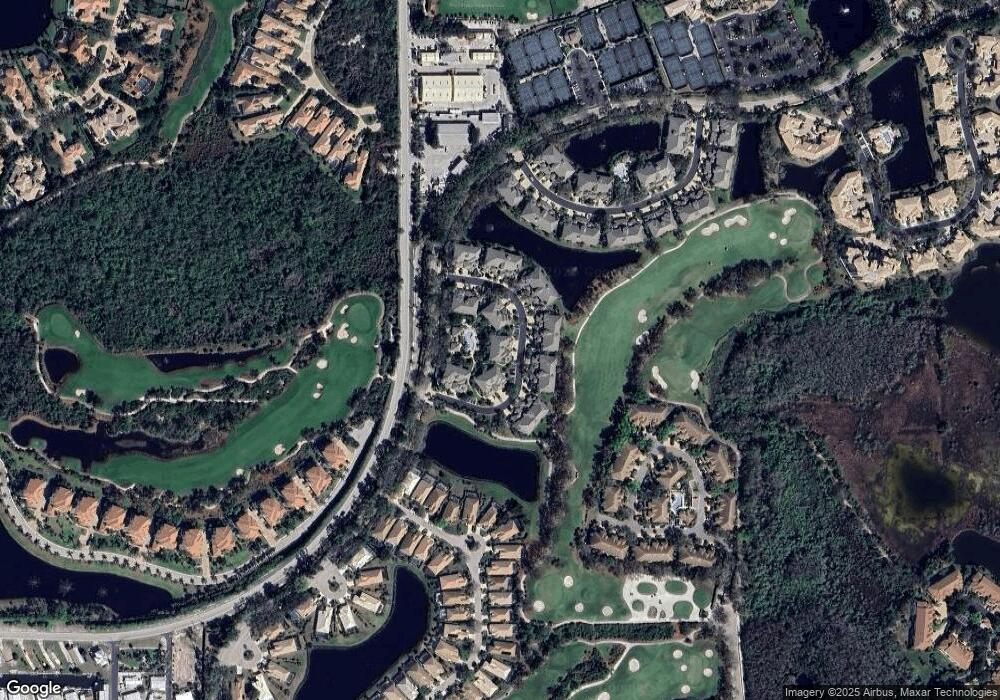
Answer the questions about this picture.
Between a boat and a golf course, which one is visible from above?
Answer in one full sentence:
I can see a golf course in this picture.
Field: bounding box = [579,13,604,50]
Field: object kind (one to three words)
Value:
tennis court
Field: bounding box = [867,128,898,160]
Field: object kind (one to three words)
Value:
building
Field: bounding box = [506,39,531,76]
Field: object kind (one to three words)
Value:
tennis court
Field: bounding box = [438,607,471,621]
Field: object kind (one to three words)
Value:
house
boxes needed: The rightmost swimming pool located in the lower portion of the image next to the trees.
[669,490,686,514]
